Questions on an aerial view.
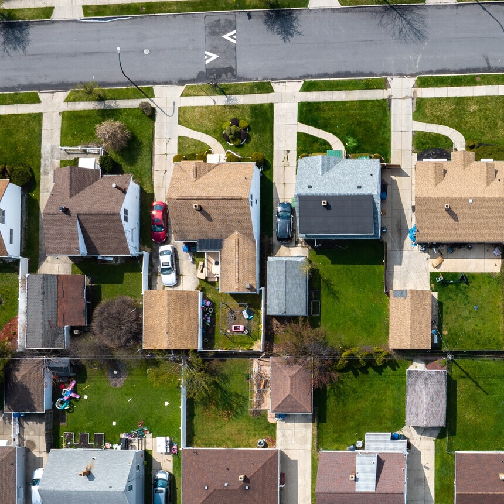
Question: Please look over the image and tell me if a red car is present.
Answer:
Yes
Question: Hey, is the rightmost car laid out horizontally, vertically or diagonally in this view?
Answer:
vertically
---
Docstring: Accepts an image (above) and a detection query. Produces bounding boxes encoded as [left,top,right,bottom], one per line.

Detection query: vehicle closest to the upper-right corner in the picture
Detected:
[274,203,294,244]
